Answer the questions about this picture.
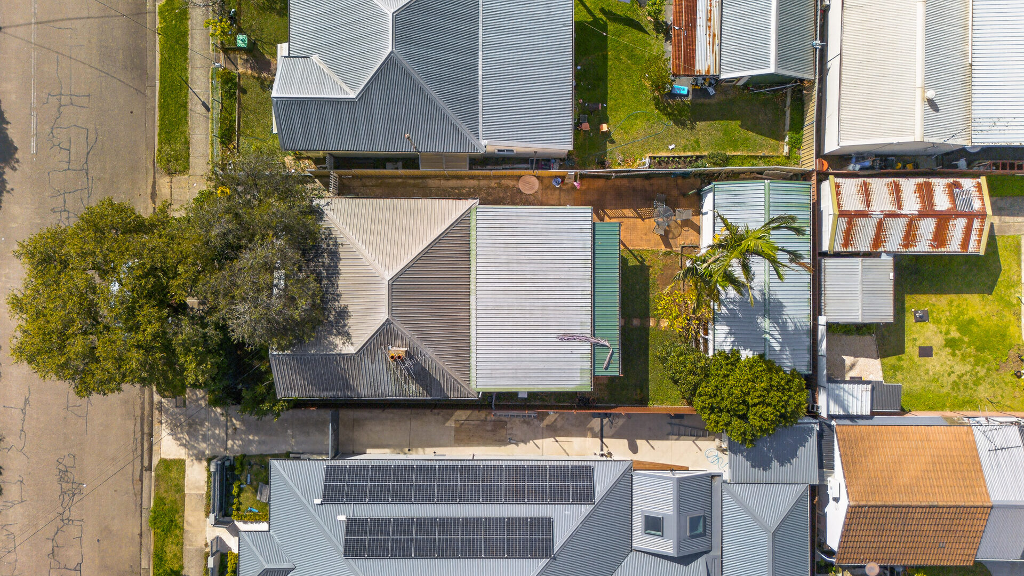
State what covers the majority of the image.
buildings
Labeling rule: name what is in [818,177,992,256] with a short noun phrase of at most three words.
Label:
building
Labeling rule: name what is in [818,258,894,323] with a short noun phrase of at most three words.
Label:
shed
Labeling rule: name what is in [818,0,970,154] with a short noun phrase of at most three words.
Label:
building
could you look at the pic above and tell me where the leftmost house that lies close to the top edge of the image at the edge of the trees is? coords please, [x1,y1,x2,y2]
[272,0,576,157]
